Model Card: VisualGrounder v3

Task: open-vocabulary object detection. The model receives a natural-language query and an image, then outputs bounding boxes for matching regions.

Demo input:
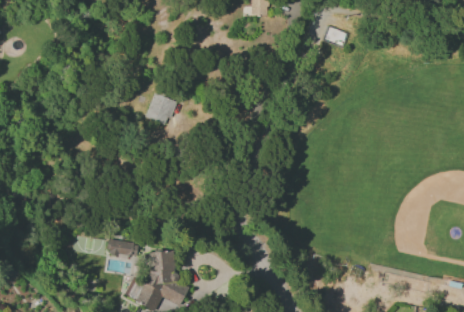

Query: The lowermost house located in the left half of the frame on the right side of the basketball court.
[125,250,190,312]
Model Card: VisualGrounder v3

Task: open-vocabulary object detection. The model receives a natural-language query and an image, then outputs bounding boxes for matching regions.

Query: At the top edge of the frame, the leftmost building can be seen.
[243,0,268,16]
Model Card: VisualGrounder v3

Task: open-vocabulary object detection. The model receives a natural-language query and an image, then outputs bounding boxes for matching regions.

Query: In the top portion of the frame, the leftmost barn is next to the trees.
[146,94,176,124]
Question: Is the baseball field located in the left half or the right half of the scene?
right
